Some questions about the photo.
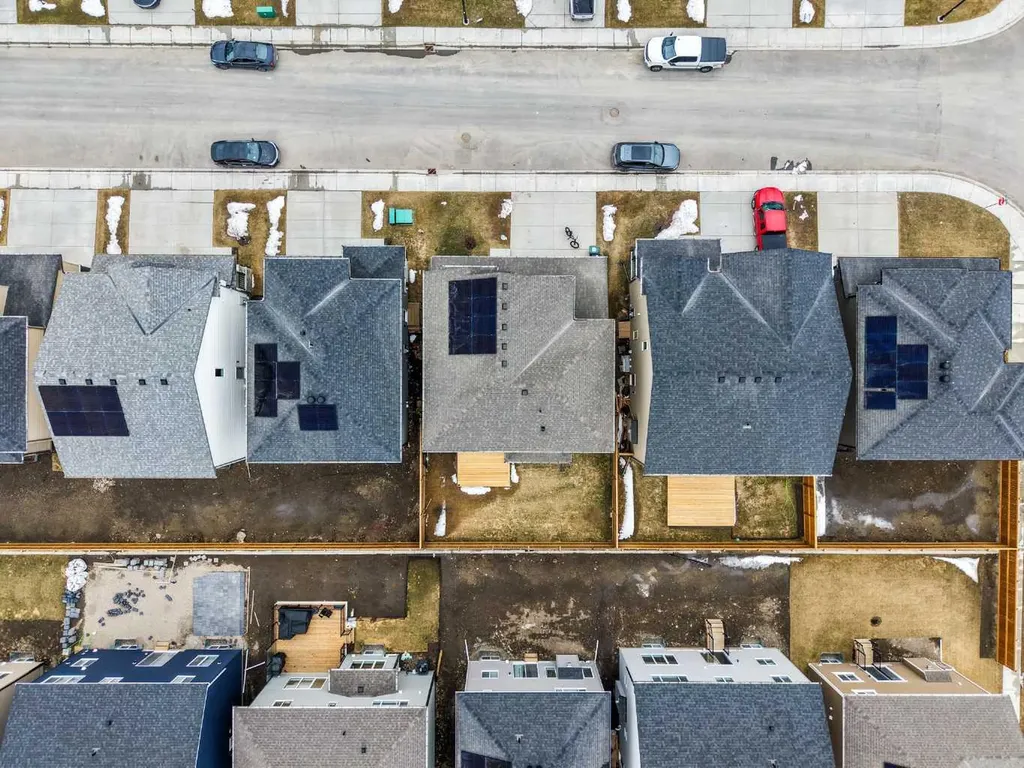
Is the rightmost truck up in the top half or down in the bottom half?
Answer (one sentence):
The rightmost truck sits in the top half of the picture.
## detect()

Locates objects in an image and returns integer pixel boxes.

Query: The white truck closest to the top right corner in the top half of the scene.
[642,32,741,73]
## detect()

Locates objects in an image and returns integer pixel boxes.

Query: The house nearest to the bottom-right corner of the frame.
[808,653,1024,768]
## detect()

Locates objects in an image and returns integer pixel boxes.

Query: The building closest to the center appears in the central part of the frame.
[422,255,616,467]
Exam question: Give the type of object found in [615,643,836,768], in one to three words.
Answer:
house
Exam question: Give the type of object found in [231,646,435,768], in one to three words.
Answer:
house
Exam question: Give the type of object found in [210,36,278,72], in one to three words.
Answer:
car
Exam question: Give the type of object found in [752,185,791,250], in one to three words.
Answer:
truck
